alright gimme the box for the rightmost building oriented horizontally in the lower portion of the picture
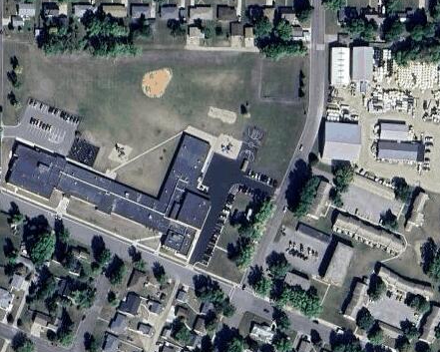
[404,278,436,298]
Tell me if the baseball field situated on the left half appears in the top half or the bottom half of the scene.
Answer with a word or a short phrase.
top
